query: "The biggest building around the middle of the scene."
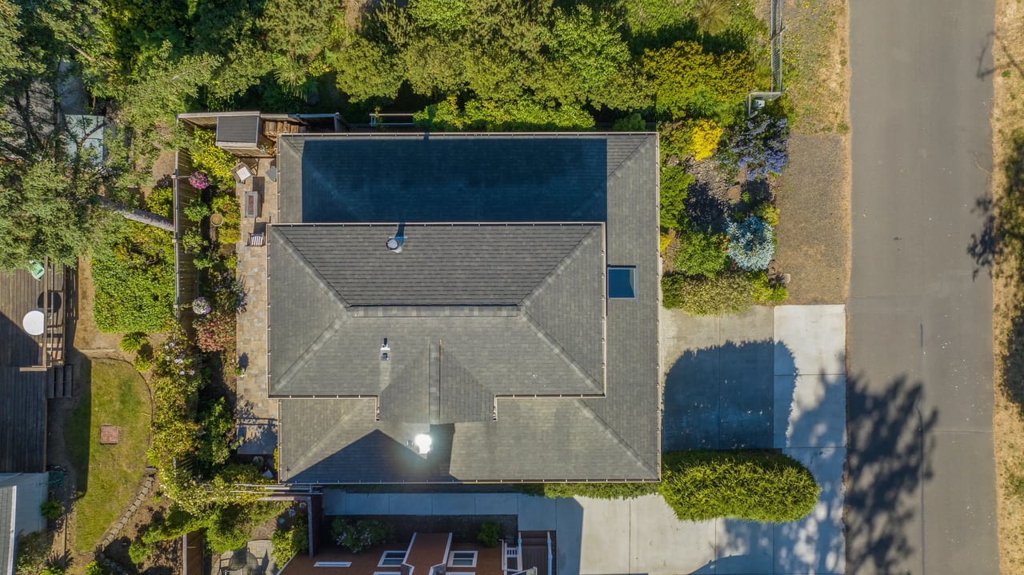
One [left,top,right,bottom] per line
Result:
[267,134,659,483]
